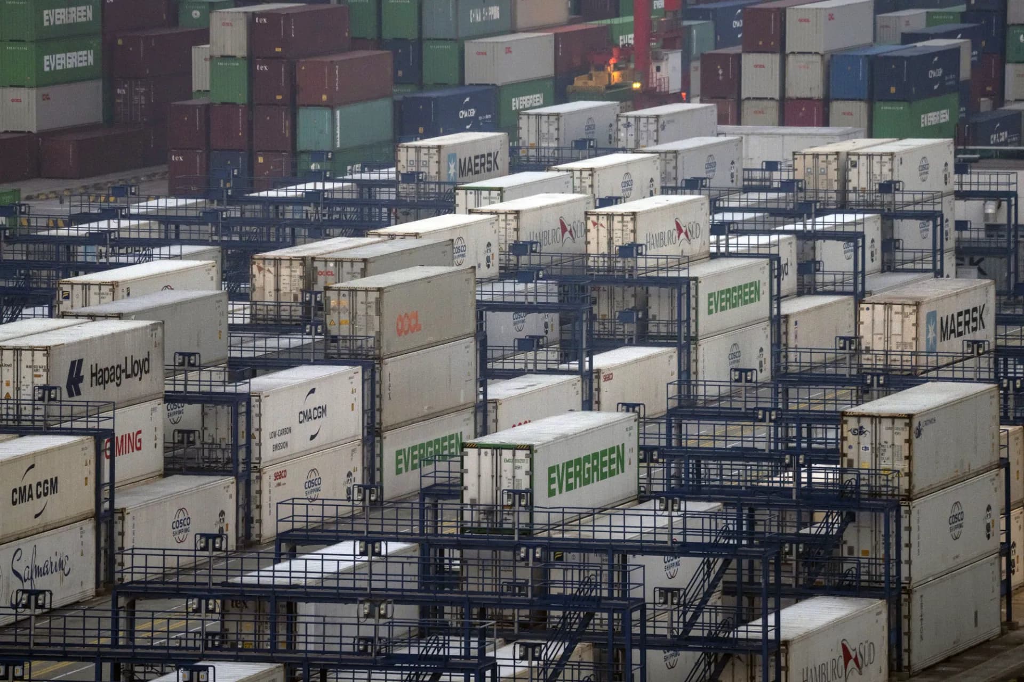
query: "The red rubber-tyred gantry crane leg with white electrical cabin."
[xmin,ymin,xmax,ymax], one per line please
[570,0,706,110]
